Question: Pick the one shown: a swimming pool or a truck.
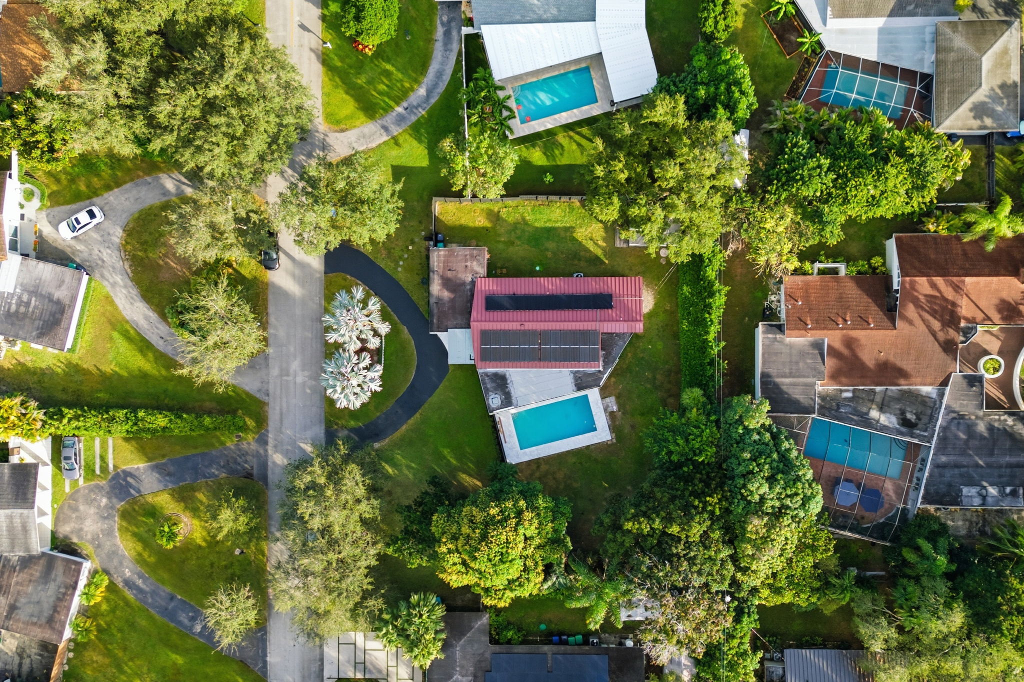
swimming pool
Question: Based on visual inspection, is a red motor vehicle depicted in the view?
No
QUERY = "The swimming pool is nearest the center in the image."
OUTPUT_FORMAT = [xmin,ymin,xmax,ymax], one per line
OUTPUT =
[508,391,599,453]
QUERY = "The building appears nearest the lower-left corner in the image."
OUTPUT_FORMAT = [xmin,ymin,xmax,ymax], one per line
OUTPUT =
[0,549,102,645]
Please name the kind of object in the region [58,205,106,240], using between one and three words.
car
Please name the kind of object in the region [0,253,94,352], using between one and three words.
house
